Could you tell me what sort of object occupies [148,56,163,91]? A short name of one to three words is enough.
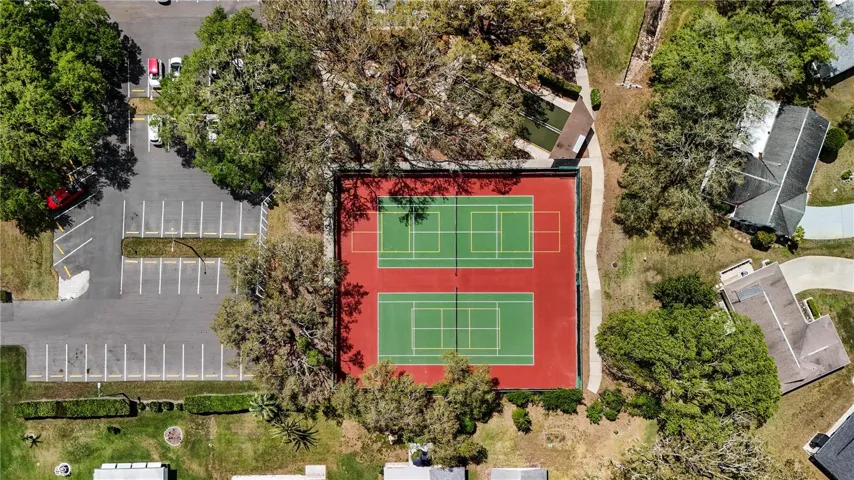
vehicle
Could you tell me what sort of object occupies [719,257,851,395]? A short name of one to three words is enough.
house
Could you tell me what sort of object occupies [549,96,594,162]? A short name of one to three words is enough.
building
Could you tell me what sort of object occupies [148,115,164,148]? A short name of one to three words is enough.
car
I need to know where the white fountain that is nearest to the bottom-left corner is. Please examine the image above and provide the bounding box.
[54,462,71,478]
